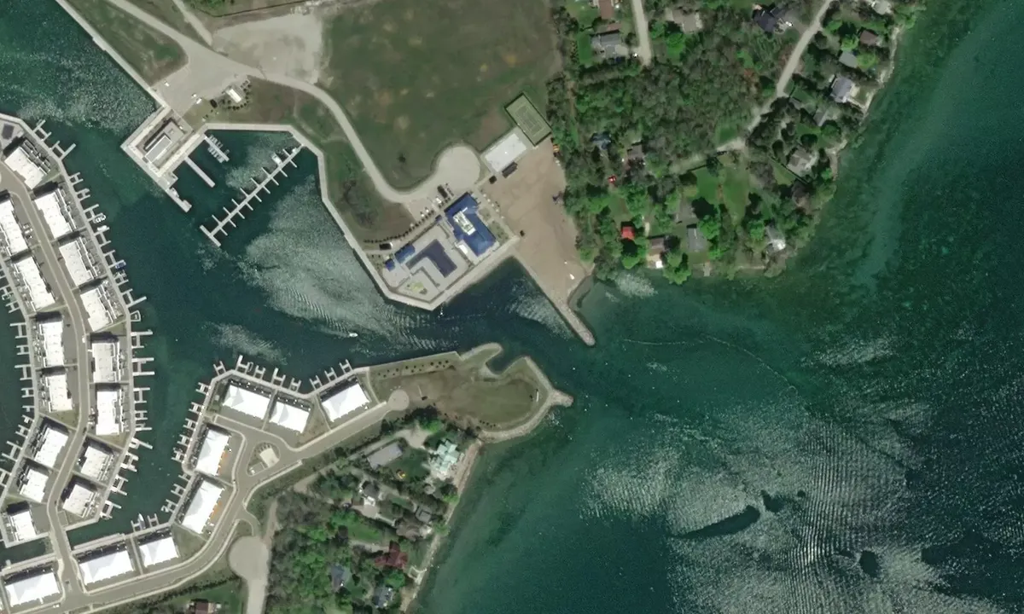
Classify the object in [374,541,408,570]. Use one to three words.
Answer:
house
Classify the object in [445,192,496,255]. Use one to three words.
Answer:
building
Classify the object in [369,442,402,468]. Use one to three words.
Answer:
house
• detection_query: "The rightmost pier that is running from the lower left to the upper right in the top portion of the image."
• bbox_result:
[200,144,304,247]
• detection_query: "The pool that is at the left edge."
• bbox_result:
[1,124,14,140]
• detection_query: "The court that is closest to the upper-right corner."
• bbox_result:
[504,92,549,145]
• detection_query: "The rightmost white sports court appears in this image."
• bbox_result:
[484,132,527,171]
